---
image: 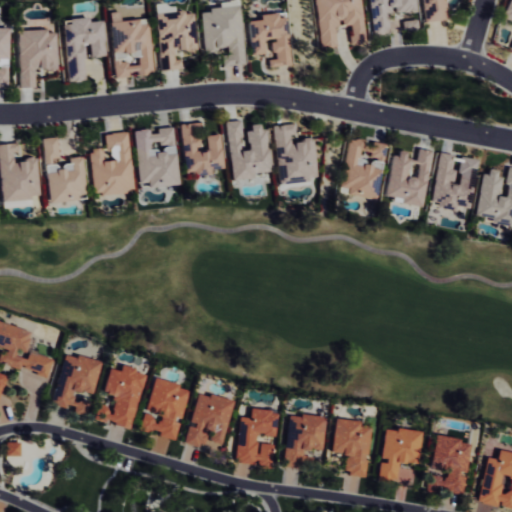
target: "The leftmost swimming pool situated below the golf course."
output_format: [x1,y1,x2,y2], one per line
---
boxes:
[20,458,43,487]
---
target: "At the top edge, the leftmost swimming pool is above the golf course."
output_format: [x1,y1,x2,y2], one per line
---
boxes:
[24,4,50,20]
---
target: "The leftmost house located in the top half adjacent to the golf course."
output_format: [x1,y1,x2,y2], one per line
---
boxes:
[0,142,39,208]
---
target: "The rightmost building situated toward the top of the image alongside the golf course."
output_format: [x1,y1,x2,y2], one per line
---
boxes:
[478,170,512,226]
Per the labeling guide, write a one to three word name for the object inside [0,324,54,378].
house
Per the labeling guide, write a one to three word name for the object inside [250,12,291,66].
house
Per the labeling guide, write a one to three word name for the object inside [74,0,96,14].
swimming pool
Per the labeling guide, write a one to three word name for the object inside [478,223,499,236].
swimming pool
